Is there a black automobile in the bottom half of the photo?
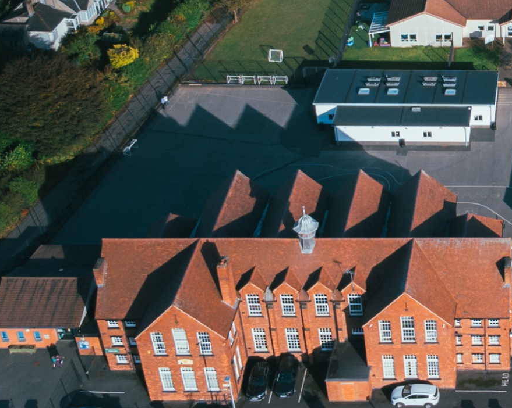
Yes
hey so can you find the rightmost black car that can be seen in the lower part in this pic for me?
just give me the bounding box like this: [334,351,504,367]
[271,355,299,394]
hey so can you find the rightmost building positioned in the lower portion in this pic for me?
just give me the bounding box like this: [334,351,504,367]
[84,169,512,400]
